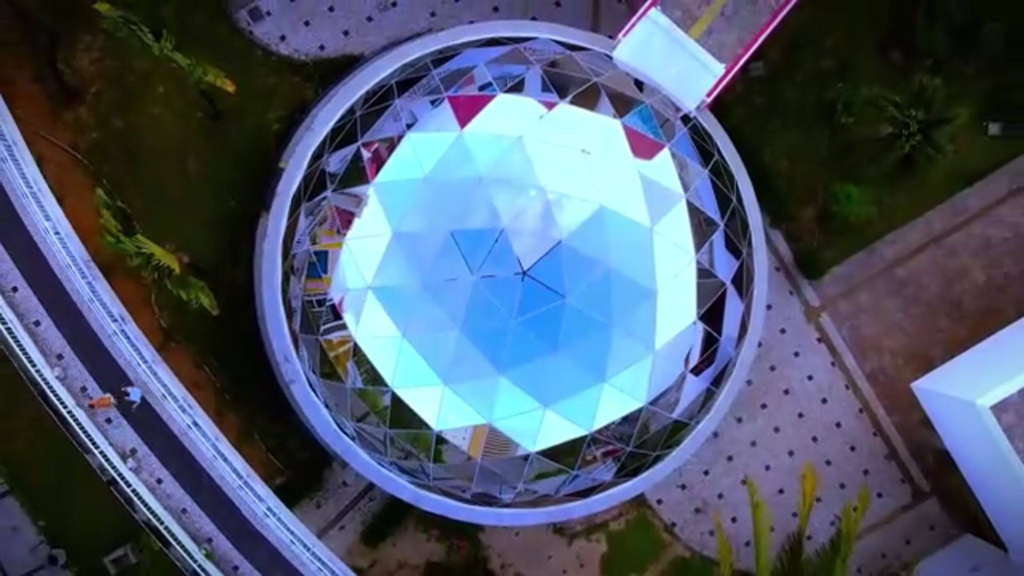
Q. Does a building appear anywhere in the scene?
Yes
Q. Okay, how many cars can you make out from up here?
0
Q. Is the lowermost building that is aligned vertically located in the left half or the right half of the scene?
right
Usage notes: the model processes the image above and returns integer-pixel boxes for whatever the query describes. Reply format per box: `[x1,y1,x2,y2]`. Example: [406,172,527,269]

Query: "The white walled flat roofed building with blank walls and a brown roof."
[911,318,1024,576]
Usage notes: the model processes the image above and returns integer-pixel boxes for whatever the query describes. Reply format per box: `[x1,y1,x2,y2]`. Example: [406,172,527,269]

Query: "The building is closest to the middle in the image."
[255,19,769,524]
